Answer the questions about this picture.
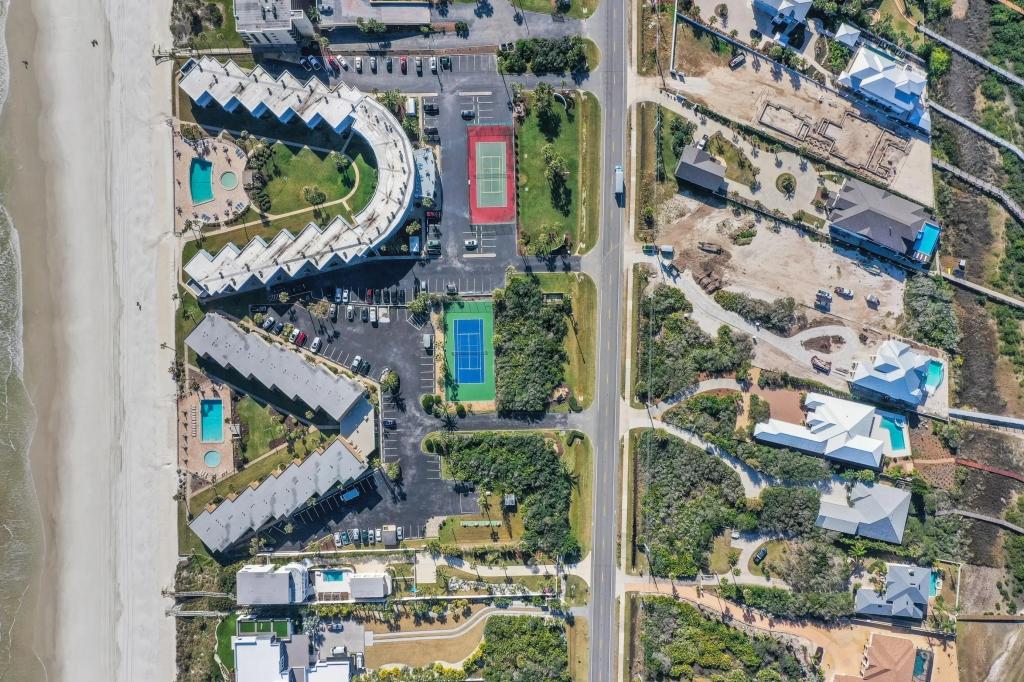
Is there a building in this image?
Yes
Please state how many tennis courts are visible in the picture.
two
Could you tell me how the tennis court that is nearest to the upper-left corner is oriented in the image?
up and down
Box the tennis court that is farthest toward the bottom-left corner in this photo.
[443,301,495,402]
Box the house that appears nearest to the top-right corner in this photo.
[836,47,927,117]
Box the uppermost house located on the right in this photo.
[750,0,812,47]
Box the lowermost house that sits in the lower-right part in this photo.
[829,627,914,682]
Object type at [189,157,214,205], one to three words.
swimming pool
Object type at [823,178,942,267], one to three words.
house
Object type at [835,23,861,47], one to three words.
gazebo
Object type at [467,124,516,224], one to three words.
tennis court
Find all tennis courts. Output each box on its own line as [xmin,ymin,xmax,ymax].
[467,124,516,224]
[443,301,495,402]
